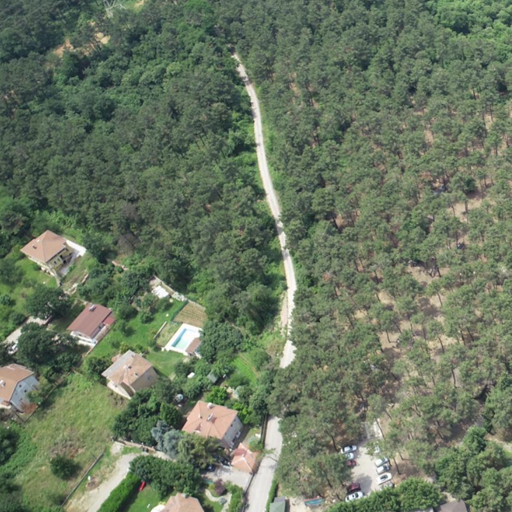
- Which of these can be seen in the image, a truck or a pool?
pool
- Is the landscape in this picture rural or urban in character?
rural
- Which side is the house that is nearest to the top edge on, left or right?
left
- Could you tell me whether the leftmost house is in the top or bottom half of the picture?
bottom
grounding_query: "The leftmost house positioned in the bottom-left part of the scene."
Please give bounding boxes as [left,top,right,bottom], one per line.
[0,364,42,415]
